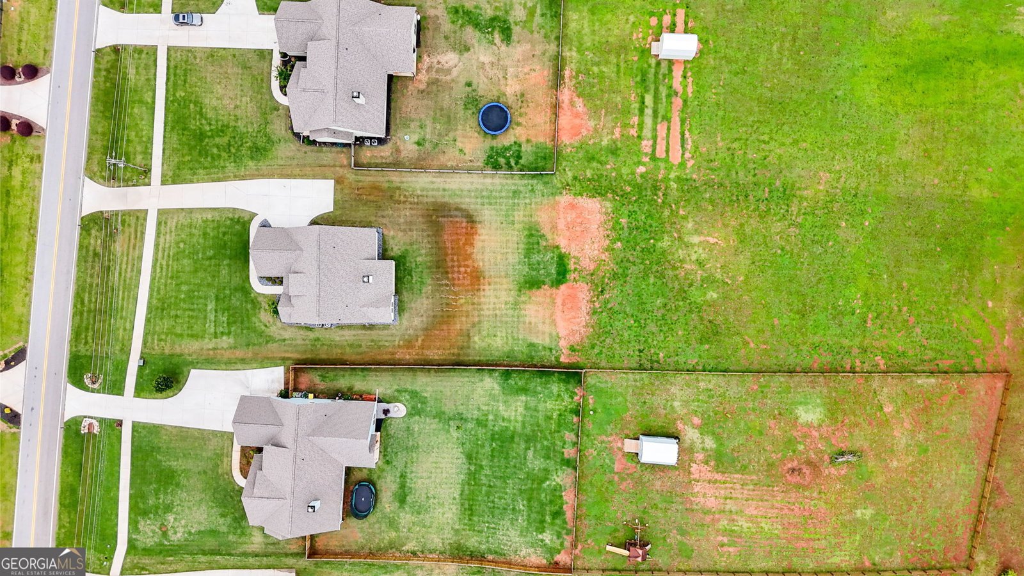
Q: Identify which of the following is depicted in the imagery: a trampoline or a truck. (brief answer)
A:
trampoline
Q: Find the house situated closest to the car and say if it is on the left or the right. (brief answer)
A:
left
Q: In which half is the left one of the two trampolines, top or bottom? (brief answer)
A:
bottom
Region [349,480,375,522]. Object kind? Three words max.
trampoline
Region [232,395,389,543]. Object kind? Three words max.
house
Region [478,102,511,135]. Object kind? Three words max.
trampoline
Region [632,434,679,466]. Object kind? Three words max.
shed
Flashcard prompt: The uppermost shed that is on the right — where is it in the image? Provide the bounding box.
[651,30,698,58]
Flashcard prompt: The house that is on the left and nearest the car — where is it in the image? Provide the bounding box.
[274,0,418,144]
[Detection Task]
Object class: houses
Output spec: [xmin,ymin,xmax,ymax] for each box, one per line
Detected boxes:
[251,226,396,323]
[274,0,418,144]
[232,395,389,543]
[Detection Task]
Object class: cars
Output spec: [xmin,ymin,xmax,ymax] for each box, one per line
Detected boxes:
[171,12,204,28]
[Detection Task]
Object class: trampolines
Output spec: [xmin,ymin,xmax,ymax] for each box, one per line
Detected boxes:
[349,480,375,522]
[478,102,511,135]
